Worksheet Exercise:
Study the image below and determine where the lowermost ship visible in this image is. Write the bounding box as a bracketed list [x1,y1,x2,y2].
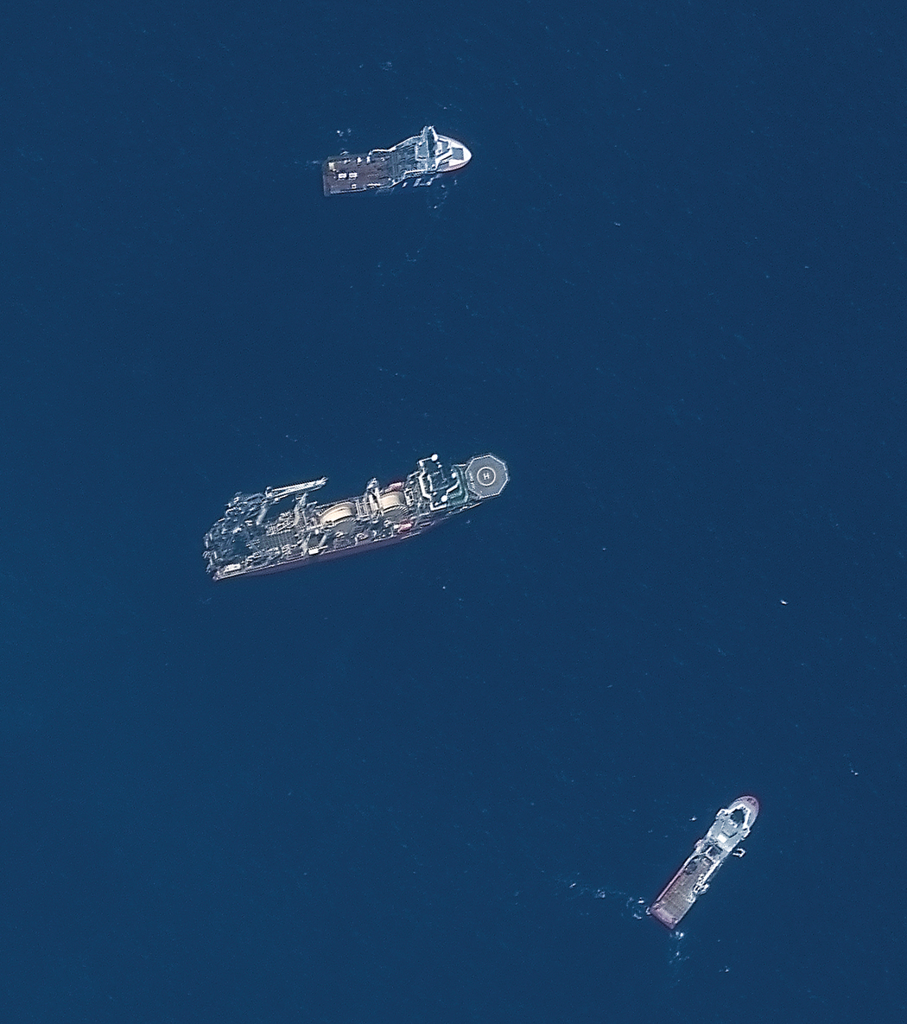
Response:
[648,796,760,932]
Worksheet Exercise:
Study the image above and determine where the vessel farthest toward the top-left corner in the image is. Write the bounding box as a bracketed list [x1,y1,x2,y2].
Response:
[321,126,472,199]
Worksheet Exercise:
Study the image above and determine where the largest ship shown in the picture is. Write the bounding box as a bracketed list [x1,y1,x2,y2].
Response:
[202,453,510,581]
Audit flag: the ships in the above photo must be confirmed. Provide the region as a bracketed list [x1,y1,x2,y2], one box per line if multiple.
[648,796,760,932]
[202,453,510,581]
[321,126,472,199]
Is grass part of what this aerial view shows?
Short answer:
No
